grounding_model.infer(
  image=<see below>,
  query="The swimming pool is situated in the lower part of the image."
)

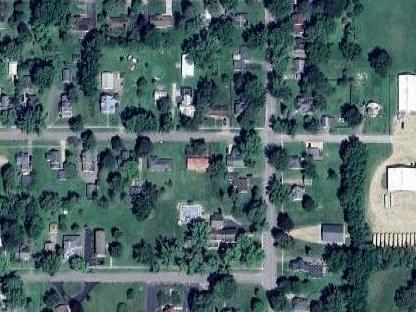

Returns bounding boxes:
[178,201,201,221]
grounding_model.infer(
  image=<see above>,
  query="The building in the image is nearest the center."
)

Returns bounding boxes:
[187,156,210,173]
